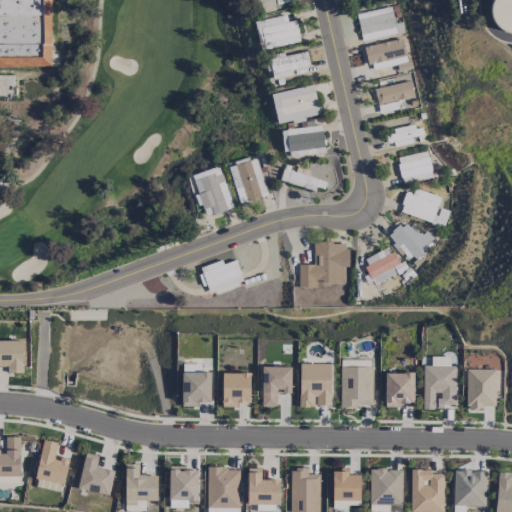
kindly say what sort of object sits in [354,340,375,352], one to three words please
swimming pool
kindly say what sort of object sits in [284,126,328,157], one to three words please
house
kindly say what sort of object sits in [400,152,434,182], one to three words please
house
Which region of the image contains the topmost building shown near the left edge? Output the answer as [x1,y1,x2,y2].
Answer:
[0,0,52,66]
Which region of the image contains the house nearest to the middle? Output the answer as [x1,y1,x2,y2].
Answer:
[200,260,244,293]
